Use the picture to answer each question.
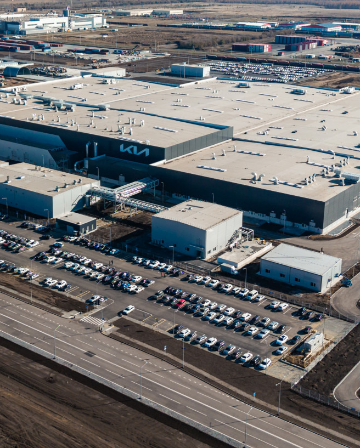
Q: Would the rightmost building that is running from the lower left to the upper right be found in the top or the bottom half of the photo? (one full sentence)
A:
You can find the rightmost building that is running from the lower left to the upper right in the bottom half.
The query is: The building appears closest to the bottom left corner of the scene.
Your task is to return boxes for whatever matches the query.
[56,213,98,236]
